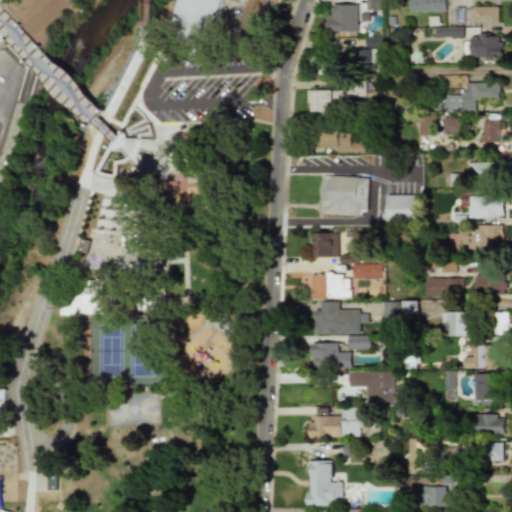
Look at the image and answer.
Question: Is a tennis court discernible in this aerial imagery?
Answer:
Yes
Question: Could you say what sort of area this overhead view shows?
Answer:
residential area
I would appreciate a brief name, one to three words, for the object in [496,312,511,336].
house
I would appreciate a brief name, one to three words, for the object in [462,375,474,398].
swimming pool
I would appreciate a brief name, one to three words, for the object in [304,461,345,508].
house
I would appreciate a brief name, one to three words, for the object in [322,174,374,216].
building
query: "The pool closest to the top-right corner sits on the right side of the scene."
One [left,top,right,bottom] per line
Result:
[436,42,454,62]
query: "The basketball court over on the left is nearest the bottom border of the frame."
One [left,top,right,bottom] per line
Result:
[108,394,162,424]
